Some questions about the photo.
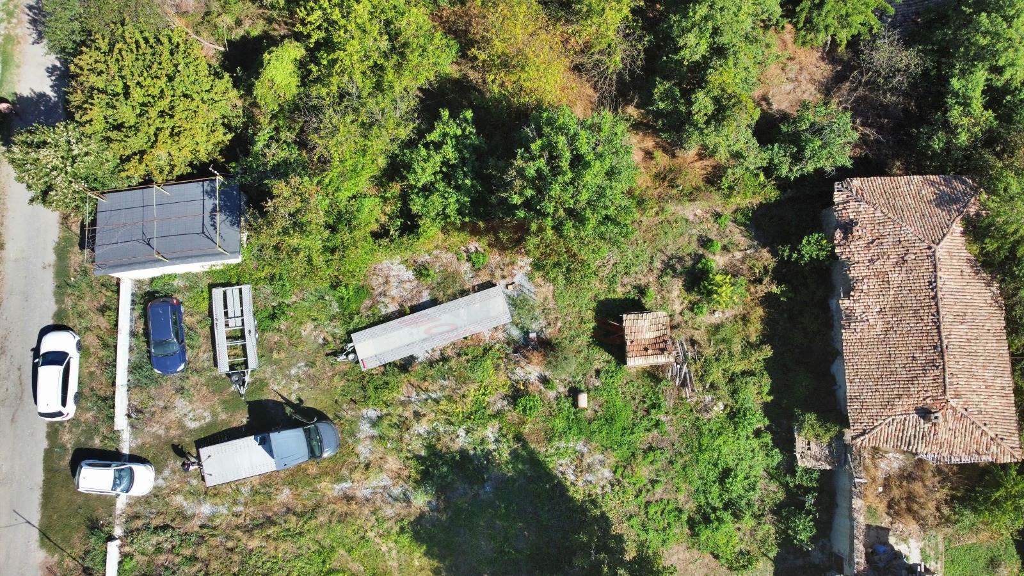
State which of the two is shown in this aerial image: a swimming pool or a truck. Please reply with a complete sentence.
Looking from above, you can make out a truck.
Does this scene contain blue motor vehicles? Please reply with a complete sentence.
Yes, you can see a blue motor vehicle in this photo.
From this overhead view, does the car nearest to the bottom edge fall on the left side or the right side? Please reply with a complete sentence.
The car nearest to the bottom edge sits on the left side.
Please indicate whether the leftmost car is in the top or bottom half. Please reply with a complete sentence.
The leftmost car sits in the bottom half of the picture.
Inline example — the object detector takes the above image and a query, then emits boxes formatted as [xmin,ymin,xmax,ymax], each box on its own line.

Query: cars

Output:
[73,457,158,501]
[34,331,83,419]
[144,297,189,376]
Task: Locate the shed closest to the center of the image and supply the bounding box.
[608,310,677,368]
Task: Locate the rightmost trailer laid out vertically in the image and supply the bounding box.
[211,283,263,402]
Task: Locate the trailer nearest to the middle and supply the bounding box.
[324,286,512,371]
